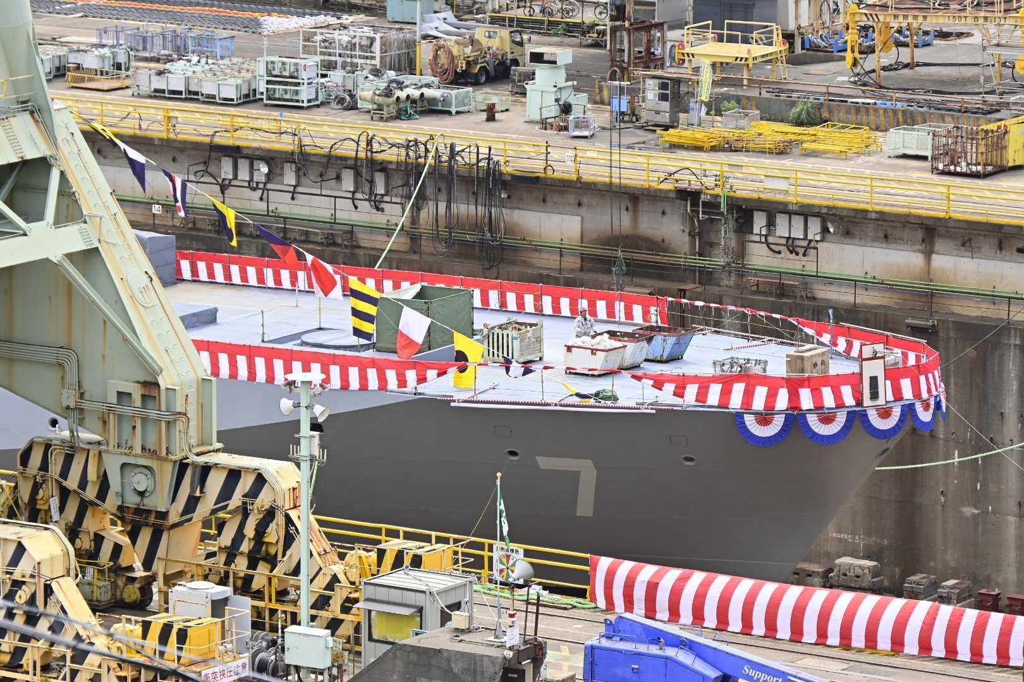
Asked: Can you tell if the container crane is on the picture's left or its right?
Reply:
left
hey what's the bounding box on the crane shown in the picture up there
[0,0,378,682]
